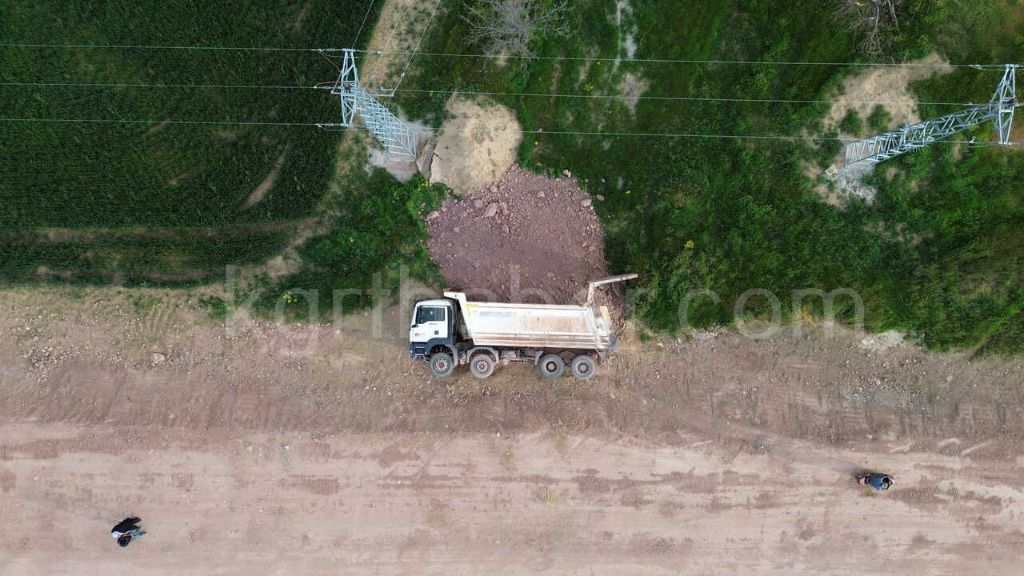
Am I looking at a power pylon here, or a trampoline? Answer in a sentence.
Looking from above, you can make out a power pylon.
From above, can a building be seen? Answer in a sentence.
No, I find no building anywhere in the image.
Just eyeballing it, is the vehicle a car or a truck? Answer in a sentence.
Looking closely, the vehicle is a truck.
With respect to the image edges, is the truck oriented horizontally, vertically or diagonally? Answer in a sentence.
I'd say the truck is aligned horizontally in the picture.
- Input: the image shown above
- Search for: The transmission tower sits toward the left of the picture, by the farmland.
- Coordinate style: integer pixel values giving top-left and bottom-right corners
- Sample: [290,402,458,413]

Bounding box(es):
[314,45,421,159]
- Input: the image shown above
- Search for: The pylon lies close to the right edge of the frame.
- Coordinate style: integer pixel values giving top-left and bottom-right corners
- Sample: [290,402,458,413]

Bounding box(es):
[836,61,1024,171]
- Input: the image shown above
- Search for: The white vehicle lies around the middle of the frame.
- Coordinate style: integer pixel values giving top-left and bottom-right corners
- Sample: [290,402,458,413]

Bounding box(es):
[410,274,639,380]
